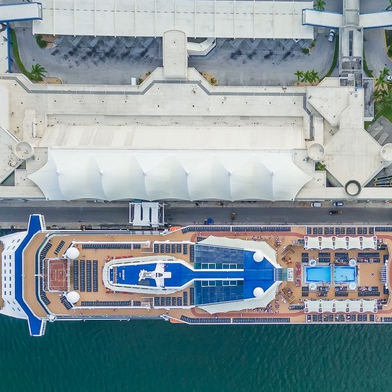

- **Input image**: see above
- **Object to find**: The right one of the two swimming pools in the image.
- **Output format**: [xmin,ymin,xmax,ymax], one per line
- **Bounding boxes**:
[334,266,356,282]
